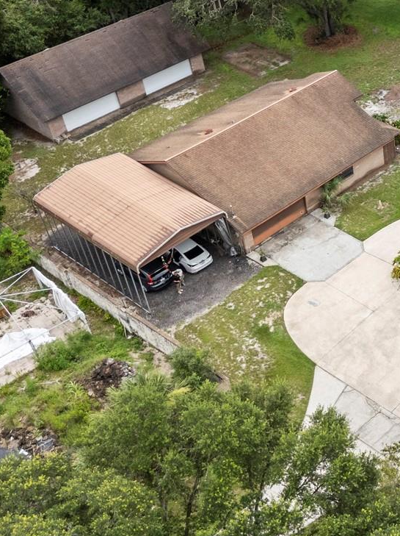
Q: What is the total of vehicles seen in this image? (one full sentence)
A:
The count of vehicles comes to 2.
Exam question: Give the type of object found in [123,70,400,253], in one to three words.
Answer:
shed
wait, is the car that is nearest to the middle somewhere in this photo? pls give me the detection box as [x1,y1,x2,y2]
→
[165,238,211,270]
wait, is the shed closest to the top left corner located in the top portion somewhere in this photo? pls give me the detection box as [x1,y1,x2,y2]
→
[0,0,225,139]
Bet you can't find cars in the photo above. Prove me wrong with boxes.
[165,238,211,270]
[109,259,172,292]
